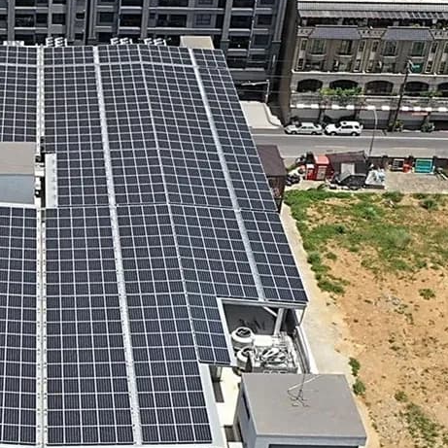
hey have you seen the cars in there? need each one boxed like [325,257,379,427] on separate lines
[285,119,324,134]
[325,118,362,135]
